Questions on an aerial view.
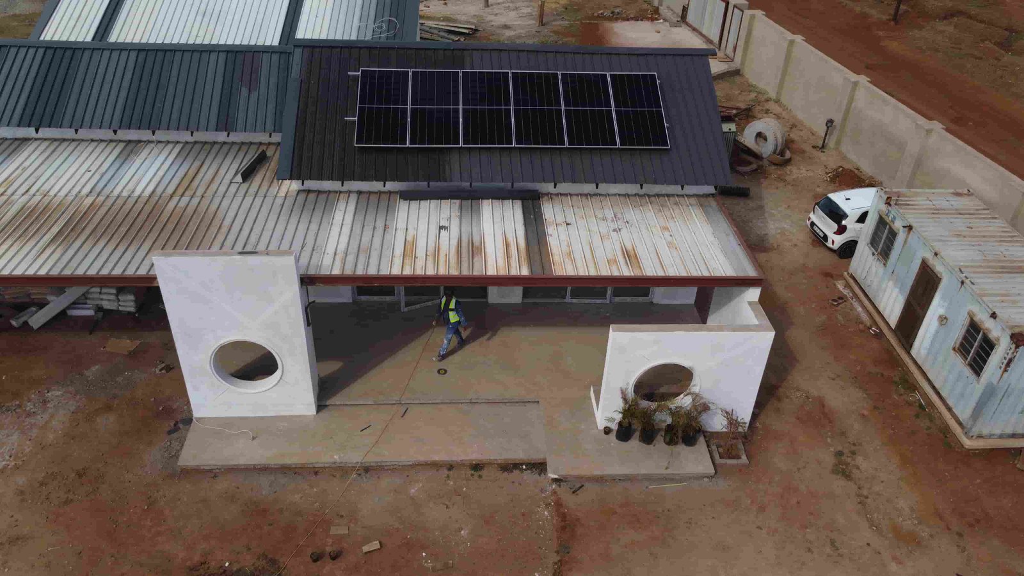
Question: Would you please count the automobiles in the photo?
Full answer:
The count comes to 1 automobile.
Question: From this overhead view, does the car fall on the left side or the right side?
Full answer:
The car is on the right side of the image.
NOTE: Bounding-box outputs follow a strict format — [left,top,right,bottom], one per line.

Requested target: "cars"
[810,186,880,257]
